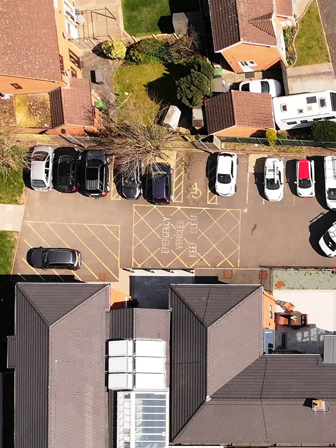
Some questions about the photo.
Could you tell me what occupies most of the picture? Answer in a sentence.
The bulk of the photo consists of buildings.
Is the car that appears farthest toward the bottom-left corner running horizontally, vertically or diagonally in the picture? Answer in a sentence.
What the image shows is the car that appears farthest toward the bottom-left corner lying horizontally.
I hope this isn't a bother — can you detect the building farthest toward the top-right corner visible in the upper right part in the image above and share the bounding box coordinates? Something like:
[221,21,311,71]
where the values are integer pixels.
[208,0,301,77]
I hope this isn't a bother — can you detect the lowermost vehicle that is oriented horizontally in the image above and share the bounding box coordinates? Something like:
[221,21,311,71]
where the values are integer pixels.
[28,244,84,272]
